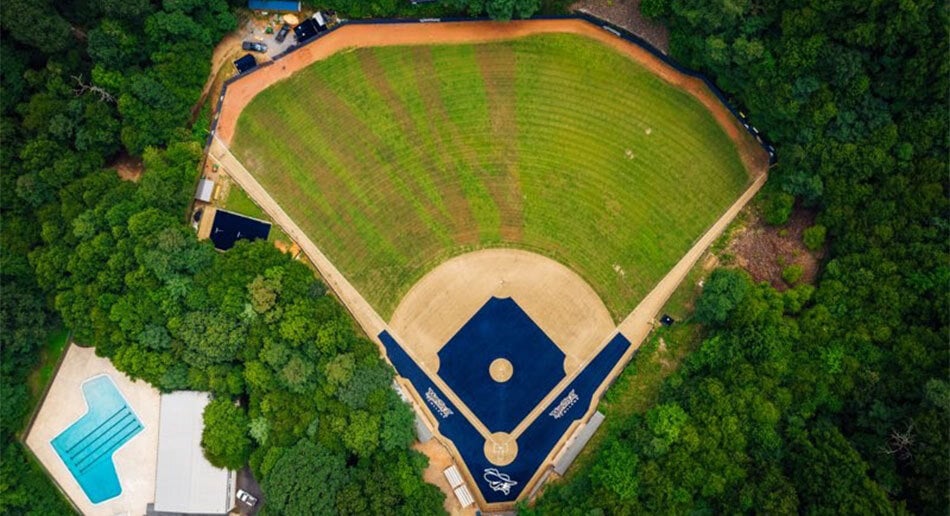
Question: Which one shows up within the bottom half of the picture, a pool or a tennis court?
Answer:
pool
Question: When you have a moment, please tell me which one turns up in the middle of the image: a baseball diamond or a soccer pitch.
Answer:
baseball diamond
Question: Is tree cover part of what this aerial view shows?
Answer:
Yes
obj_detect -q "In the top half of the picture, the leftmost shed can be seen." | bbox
[196,180,217,202]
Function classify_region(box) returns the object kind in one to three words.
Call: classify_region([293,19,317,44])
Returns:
shed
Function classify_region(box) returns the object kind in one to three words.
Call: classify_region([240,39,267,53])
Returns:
vehicle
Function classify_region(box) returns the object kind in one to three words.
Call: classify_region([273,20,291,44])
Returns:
vehicle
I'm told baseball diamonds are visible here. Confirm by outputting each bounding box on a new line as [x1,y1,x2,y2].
[209,19,770,510]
